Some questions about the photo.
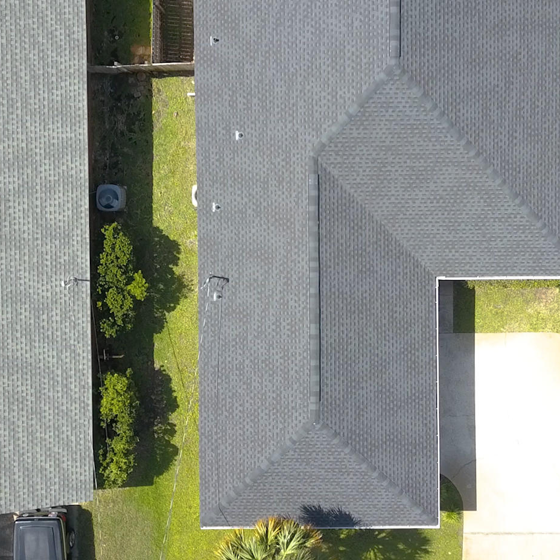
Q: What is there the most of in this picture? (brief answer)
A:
buildings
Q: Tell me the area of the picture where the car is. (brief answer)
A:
bottom left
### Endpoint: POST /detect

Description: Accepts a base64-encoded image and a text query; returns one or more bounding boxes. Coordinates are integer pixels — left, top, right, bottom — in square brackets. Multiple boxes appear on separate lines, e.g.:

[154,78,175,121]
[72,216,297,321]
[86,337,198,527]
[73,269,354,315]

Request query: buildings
[188,0,560,532]
[0,0,97,512]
